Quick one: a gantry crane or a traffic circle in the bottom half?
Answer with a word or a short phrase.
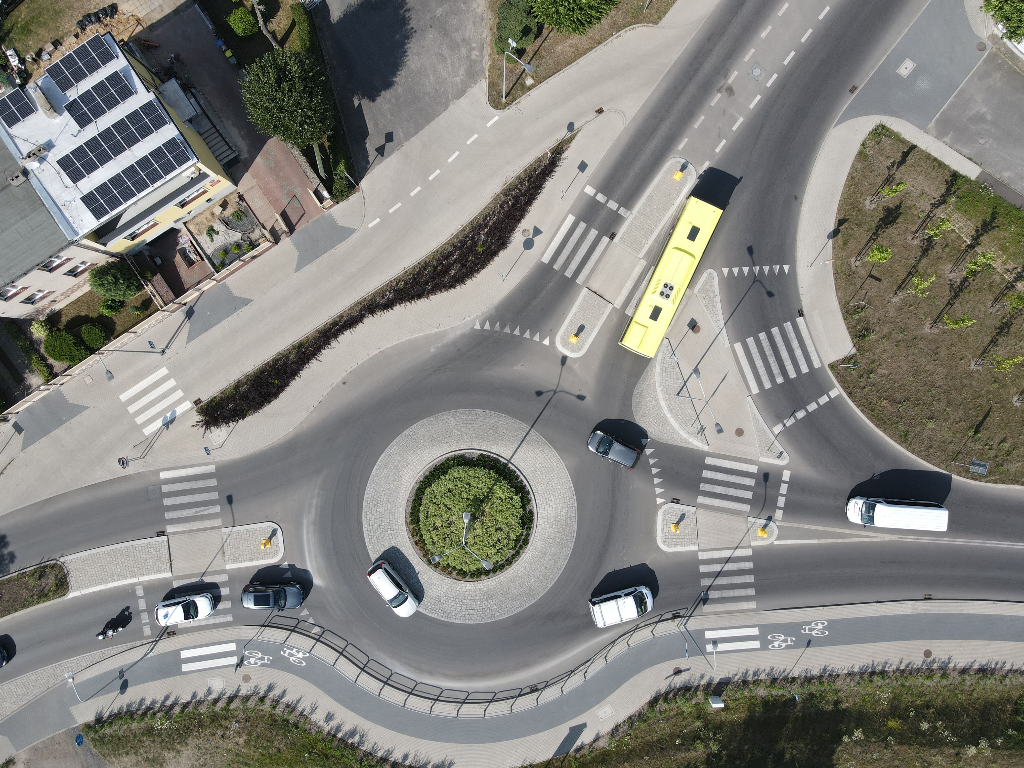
traffic circle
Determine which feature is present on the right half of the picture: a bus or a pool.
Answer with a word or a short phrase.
bus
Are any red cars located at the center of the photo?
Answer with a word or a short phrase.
No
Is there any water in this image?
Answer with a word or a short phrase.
No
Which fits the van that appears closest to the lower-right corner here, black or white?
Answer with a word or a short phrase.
white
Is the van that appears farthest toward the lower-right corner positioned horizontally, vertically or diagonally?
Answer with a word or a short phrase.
horizontally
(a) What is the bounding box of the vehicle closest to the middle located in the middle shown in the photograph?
[584,429,644,472]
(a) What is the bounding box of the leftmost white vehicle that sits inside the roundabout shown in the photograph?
[367,561,416,619]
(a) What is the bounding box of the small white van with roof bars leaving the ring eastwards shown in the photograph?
[592,585,653,625]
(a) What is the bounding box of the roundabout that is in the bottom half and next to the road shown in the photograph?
[304,351,635,681]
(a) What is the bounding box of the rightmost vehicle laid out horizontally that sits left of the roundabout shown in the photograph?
[239,580,307,613]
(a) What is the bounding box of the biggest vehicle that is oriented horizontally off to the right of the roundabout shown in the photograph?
[846,497,946,531]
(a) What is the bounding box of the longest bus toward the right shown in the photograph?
[613,191,726,359]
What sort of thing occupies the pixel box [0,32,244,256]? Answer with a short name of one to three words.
house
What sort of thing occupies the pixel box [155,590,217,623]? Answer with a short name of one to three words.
car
